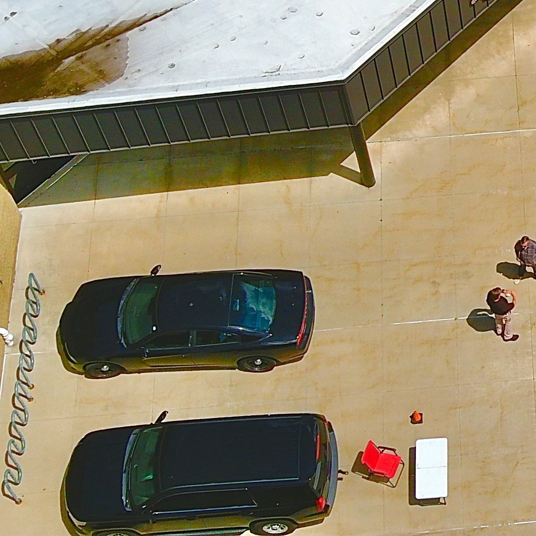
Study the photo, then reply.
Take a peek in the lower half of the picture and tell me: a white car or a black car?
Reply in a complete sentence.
You can see a black car in the lower half of the picture.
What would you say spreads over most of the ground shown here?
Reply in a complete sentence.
The largest share of the image is taken up by paved ground.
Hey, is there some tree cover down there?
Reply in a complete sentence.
No, no tree cover is visible.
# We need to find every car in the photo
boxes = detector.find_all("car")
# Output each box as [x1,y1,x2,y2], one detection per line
[58,259,314,378]
[62,404,358,536]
